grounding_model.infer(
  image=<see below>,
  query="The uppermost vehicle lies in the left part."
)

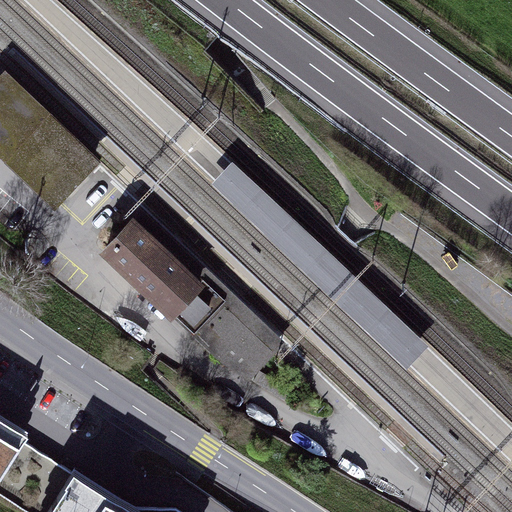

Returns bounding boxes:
[85,185,108,207]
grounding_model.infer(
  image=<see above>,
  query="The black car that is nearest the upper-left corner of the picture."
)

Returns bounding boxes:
[7,207,24,229]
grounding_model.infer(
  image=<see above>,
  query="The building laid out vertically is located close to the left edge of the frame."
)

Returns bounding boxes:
[0,408,32,482]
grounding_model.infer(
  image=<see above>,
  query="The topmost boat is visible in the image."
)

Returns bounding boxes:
[113,314,147,341]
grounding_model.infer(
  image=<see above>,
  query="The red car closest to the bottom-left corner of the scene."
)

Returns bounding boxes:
[40,388,55,410]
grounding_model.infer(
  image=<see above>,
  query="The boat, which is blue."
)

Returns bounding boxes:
[287,428,330,458]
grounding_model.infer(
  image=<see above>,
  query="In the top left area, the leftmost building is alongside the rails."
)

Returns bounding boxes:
[0,64,100,210]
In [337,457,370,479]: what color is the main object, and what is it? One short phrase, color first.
white boat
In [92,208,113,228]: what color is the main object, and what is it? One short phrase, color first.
white car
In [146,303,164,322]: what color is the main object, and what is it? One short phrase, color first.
white car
